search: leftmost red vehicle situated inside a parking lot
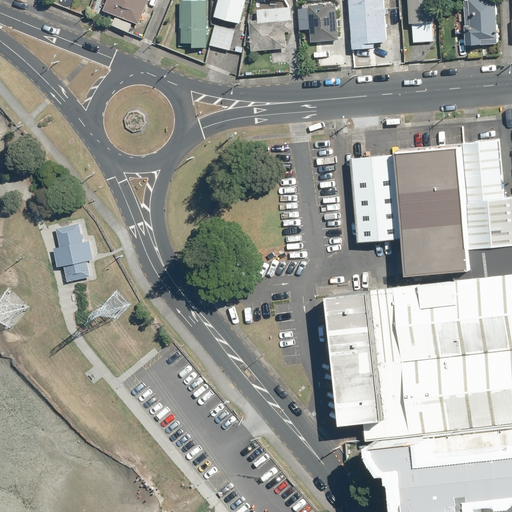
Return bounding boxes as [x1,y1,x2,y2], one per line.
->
[160,413,176,427]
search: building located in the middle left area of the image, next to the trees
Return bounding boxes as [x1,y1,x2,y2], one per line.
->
[54,224,96,282]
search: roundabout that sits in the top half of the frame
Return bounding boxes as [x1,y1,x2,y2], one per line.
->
[104,84,175,156]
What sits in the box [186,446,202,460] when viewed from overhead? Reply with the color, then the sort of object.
white car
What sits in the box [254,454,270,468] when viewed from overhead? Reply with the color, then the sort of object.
white vehicle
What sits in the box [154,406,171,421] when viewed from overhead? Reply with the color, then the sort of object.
white vehicle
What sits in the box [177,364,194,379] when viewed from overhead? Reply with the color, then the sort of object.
white car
